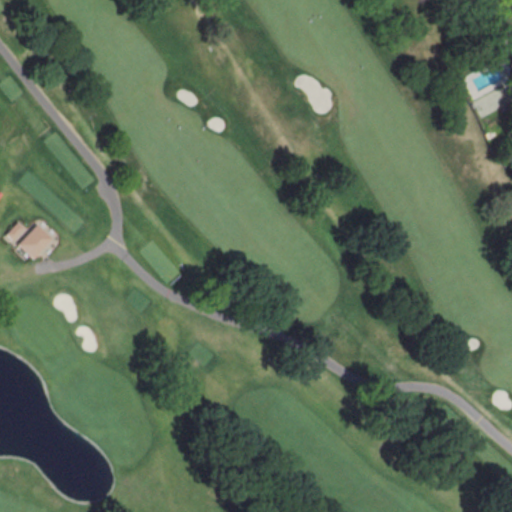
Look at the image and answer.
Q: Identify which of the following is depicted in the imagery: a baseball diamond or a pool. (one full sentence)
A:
Visible in the photo is a pool.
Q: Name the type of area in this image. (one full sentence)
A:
The picture captures a golf course.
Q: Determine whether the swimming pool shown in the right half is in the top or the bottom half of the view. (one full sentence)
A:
Seen from above, the swimming pool shown in the right half lies in the top half of the view.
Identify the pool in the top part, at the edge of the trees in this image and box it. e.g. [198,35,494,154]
[465,64,502,100]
